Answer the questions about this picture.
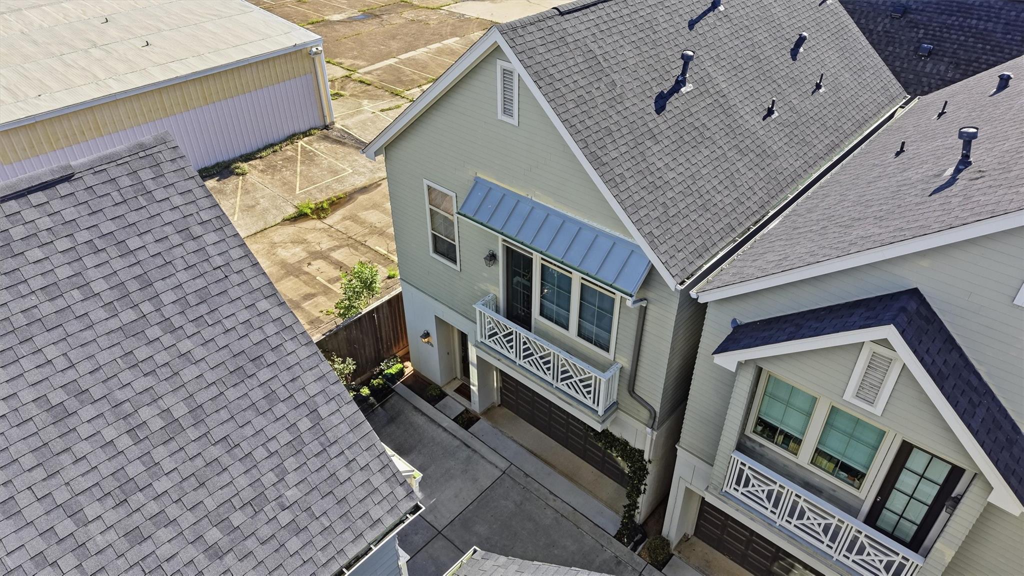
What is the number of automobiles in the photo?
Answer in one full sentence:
Not a single automobile can be seen.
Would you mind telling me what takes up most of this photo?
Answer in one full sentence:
The largest share of the image is taken up by buildings.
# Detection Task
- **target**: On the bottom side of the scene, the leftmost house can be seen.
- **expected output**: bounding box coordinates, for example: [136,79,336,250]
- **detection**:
[0,130,433,576]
